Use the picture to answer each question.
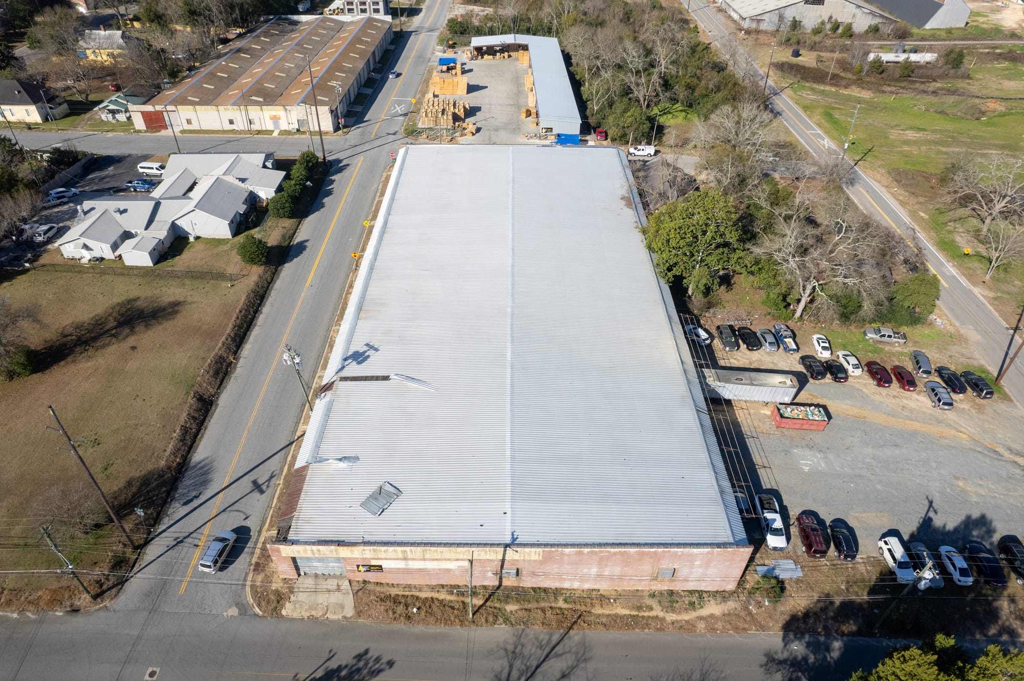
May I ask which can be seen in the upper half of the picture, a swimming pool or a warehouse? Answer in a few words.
warehouse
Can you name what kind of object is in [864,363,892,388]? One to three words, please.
car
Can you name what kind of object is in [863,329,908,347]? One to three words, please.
vehicle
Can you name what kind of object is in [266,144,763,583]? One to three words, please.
warehouse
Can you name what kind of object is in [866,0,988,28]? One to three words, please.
shed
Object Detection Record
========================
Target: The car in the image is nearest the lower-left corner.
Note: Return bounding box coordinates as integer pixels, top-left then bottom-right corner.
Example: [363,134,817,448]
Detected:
[198,531,236,575]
